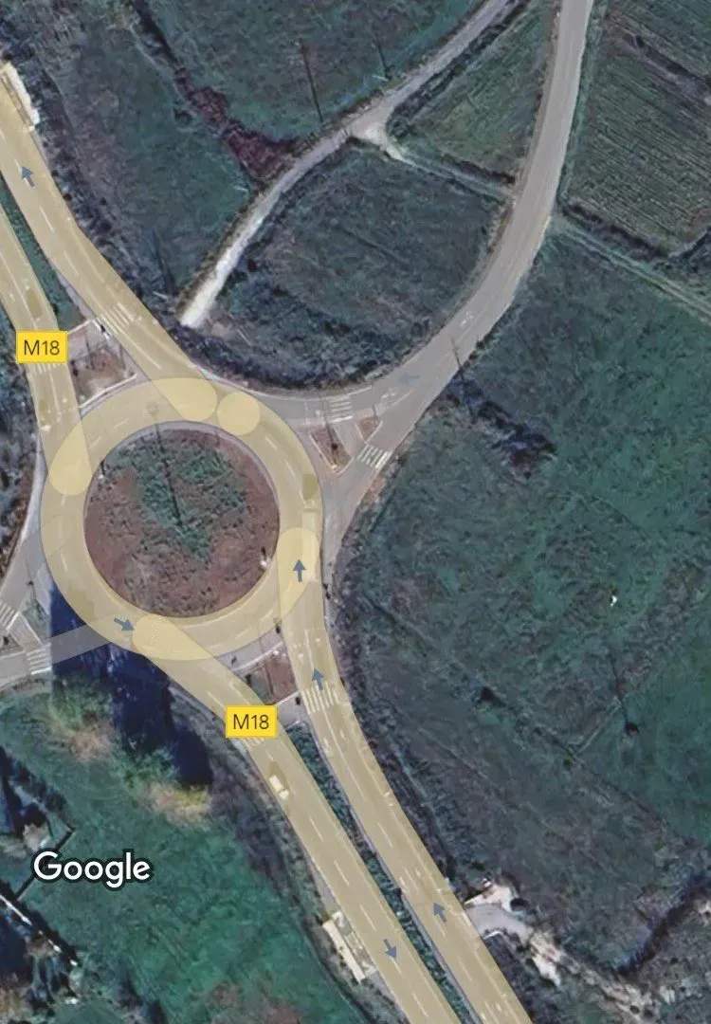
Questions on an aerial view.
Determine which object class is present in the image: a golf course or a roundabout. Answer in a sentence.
There is a roundabout in the scene.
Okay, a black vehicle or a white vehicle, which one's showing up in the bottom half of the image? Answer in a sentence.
It is a white vehicle that can be seen in the bottom half of the image.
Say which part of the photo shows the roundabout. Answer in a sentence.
You can find the roundabout in the left area of the picture.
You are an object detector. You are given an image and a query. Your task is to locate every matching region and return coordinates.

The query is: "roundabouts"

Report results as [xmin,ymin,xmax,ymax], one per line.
[41,377,323,660]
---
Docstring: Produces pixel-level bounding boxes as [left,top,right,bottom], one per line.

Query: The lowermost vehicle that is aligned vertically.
[300,498,322,573]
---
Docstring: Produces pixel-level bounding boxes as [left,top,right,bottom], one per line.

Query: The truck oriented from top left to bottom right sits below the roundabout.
[267,773,293,802]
